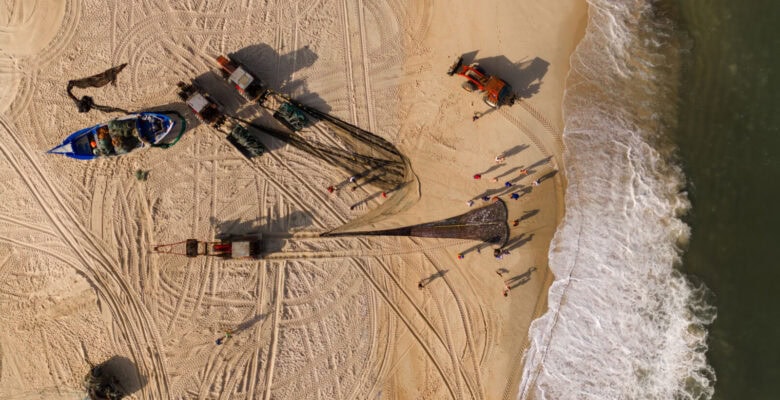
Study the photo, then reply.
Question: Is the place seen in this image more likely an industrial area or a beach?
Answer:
beach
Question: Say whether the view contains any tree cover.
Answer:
No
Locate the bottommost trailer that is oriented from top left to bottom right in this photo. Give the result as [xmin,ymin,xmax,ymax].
[224,123,265,160]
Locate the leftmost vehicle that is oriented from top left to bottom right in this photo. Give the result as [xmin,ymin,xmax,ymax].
[176,81,230,126]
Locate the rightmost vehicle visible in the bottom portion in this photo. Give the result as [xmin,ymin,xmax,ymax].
[217,232,270,260]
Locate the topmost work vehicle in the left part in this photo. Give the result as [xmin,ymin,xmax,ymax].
[222,60,270,104]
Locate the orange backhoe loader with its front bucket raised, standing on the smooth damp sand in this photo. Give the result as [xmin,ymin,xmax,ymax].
[446,59,515,117]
